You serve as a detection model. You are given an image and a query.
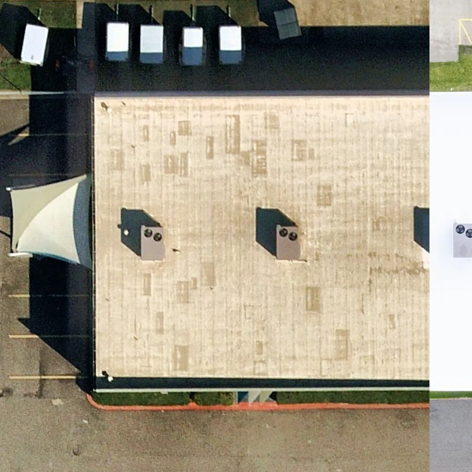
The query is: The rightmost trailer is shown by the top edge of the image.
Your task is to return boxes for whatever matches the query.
[218,9,247,65]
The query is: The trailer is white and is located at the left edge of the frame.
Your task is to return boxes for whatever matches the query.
[21,11,54,66]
